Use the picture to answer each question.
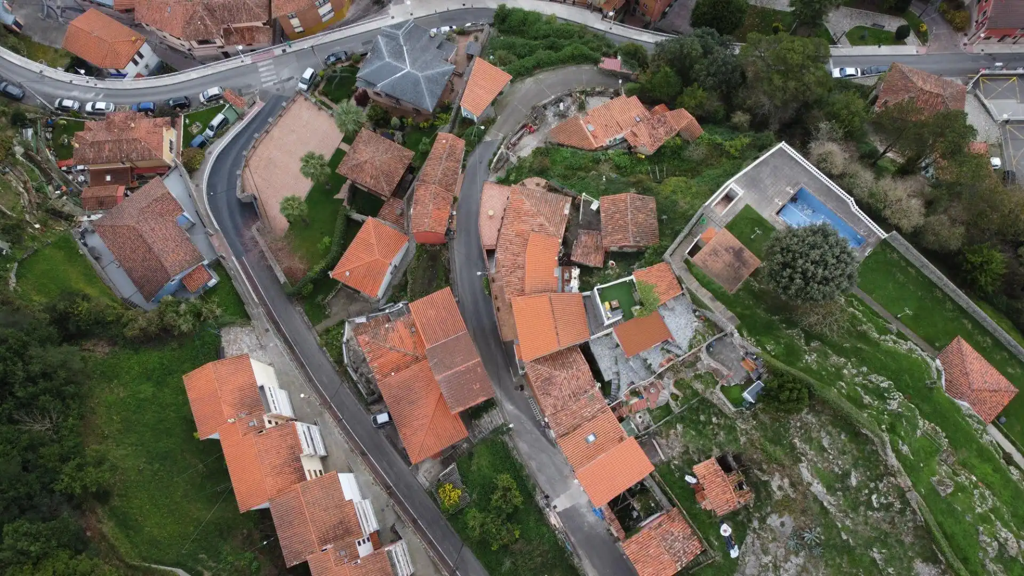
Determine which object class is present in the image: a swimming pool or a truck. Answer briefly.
swimming pool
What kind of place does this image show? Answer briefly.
residential area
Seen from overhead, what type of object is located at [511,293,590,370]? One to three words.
house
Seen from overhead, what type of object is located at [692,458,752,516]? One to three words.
shed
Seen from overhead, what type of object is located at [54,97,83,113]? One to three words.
car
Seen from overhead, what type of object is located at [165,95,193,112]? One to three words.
car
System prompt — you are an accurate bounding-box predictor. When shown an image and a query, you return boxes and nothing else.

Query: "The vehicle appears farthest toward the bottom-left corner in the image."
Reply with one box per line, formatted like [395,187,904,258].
[367,412,395,429]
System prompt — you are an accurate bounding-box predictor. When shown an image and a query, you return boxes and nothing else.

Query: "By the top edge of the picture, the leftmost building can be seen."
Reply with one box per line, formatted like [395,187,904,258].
[0,2,34,43]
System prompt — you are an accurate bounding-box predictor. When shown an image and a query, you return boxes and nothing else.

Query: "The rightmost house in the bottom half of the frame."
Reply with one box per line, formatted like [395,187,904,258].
[932,335,1020,424]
